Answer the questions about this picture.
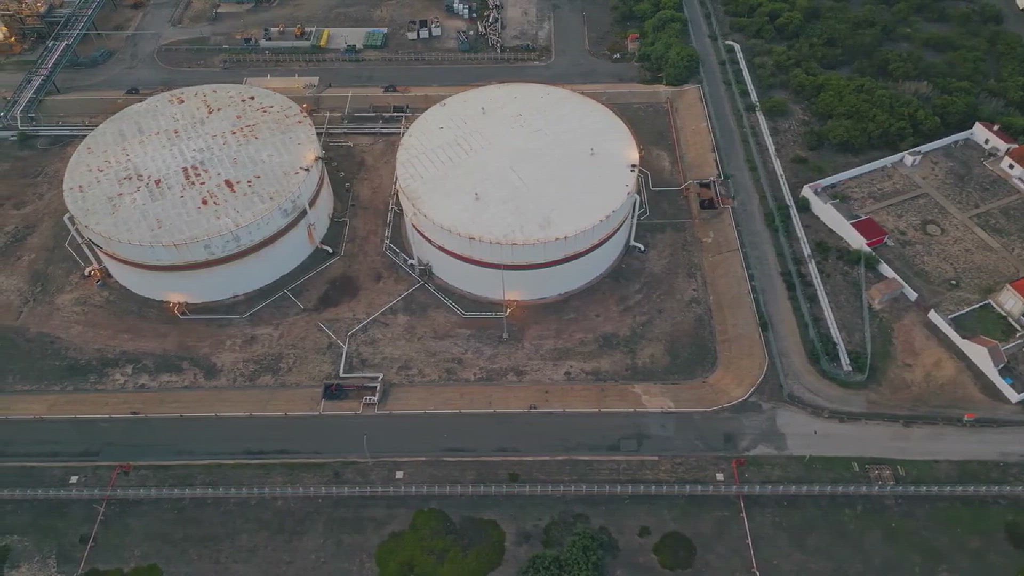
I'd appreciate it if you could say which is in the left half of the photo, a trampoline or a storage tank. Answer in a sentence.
You can see a storage tank in the left half of the photo.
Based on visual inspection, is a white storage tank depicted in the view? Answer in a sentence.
Yes, the image includes a white storage tank.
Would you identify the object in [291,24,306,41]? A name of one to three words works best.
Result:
work vehicle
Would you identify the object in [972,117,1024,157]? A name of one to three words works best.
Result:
house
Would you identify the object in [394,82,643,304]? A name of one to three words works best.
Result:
storage tank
